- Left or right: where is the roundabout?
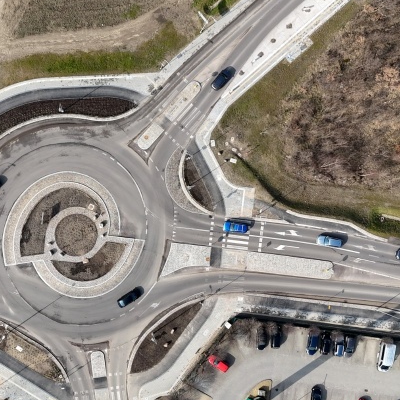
left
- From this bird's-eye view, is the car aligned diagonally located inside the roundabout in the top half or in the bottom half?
bottom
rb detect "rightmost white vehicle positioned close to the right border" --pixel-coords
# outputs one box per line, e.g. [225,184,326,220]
[377,338,396,369]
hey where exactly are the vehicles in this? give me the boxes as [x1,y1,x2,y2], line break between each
[395,248,400,258]
[342,333,356,357]
[117,285,143,307]
[205,352,230,373]
[331,334,345,356]
[269,325,280,348]
[377,338,396,369]
[316,234,344,247]
[310,384,323,400]
[304,330,318,355]
[254,323,266,350]
[209,66,234,91]
[224,220,250,232]
[318,330,331,355]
